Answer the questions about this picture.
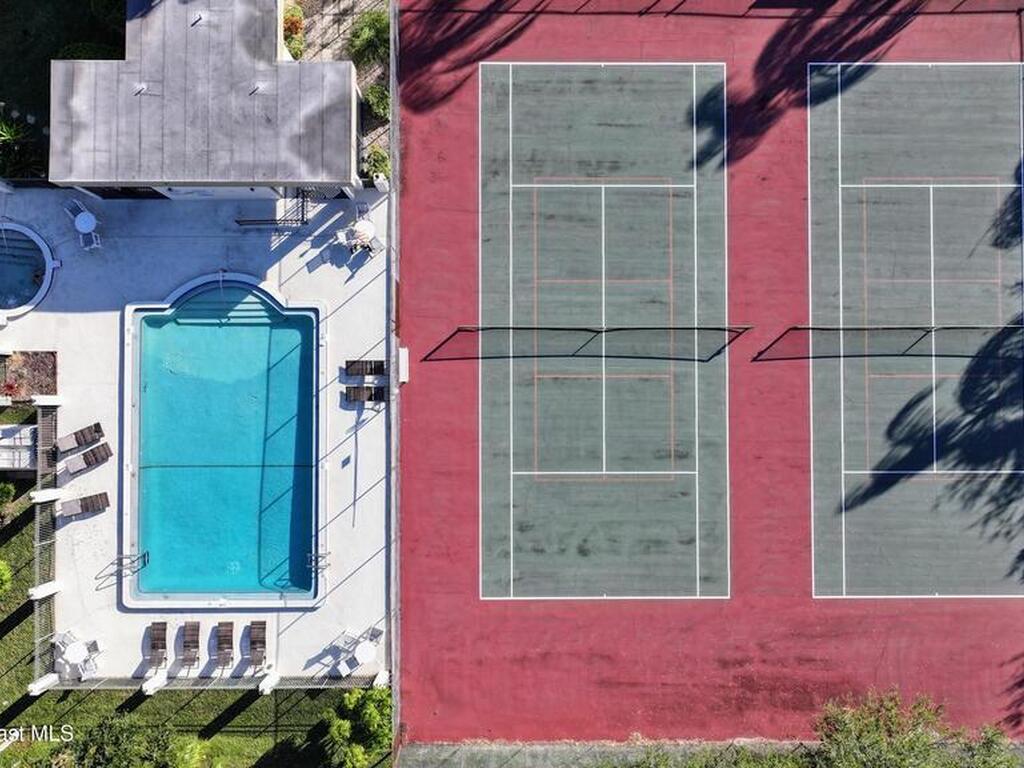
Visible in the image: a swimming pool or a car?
swimming pool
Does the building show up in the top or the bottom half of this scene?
top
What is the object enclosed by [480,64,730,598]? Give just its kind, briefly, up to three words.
tennis court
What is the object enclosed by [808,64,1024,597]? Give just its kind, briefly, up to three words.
tennis court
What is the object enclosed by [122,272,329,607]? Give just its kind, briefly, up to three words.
swimming pool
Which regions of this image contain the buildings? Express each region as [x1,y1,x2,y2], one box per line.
[49,0,366,202]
